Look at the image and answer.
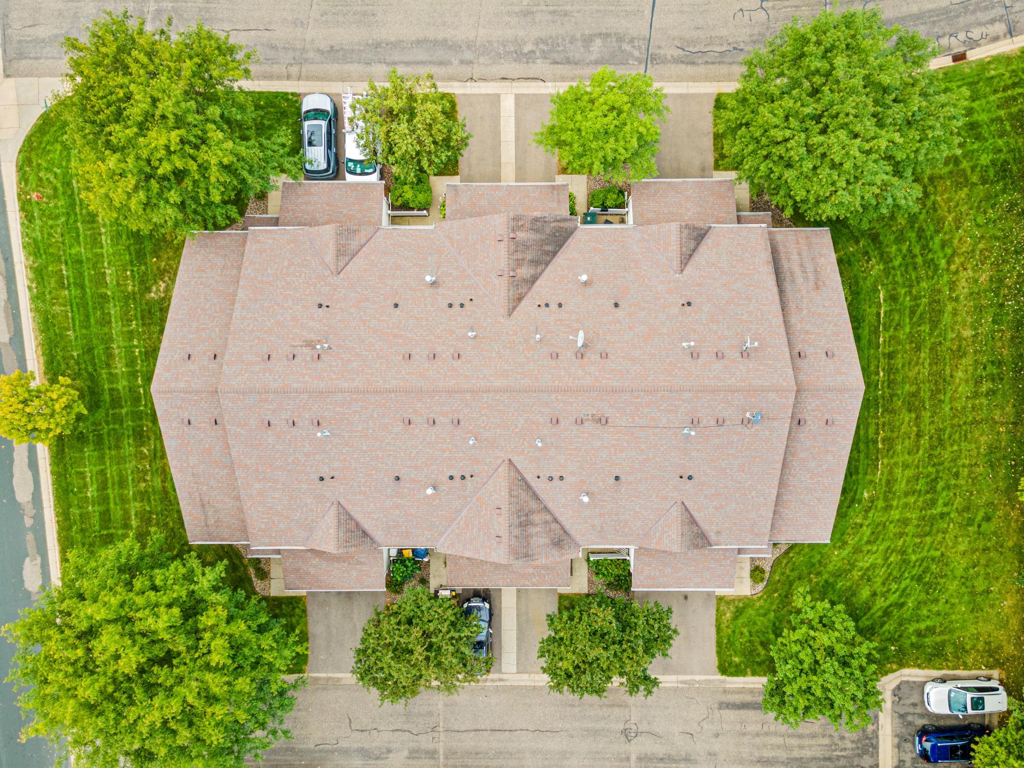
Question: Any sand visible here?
No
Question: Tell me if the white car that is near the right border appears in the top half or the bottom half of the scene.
bottom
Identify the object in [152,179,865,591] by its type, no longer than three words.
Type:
house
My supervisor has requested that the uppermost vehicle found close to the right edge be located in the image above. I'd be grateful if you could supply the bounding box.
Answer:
[920,673,1011,719]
